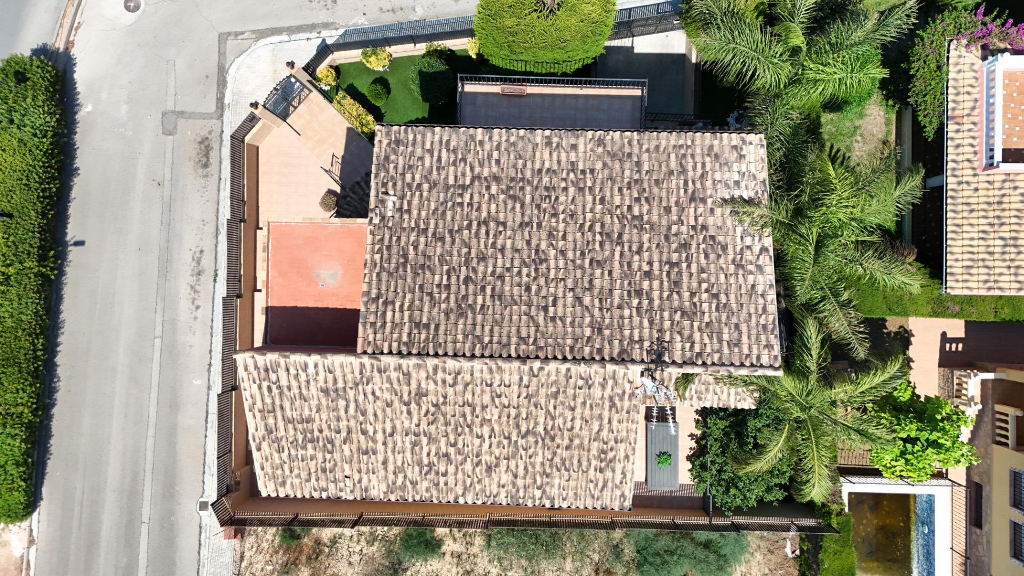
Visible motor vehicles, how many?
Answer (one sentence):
The count of motor vehicles is 0.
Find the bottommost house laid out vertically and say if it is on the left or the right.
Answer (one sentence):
You can find the bottommost house laid out vertically on the right side of the picture.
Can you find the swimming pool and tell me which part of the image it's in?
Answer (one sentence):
The swimming pool sits in the bottom right section of the image.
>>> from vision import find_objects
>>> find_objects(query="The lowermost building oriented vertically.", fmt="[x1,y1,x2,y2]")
[936,366,1024,576]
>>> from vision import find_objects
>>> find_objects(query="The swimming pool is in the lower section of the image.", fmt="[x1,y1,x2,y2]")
[841,473,953,576]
